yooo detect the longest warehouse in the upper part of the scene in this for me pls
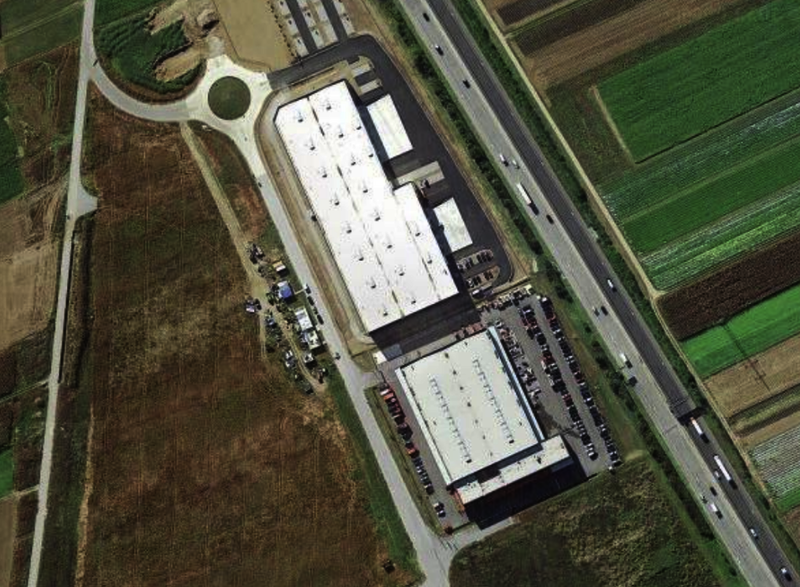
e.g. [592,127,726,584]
[272,78,459,333]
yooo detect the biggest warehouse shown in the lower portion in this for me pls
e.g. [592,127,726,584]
[396,326,544,485]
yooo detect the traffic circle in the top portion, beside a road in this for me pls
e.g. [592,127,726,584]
[186,54,273,174]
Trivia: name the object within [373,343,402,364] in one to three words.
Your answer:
shed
